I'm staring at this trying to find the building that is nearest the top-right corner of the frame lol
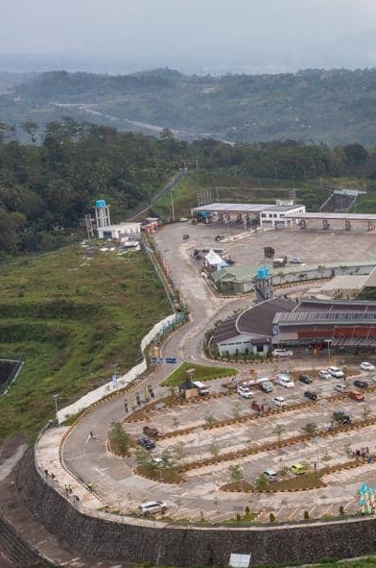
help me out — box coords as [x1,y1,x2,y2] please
[259,199,306,230]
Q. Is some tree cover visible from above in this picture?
Yes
